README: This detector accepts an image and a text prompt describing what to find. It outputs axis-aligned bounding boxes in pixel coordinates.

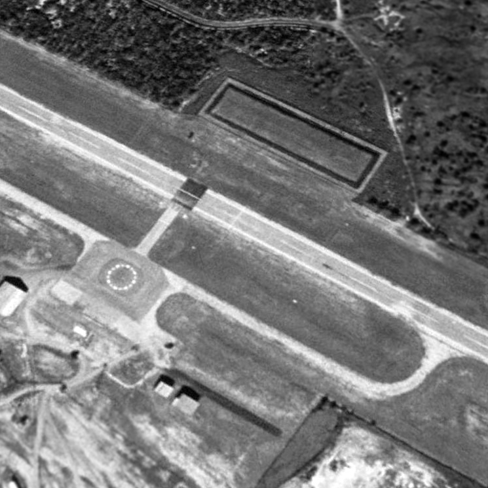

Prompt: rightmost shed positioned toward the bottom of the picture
[172,394,200,417]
